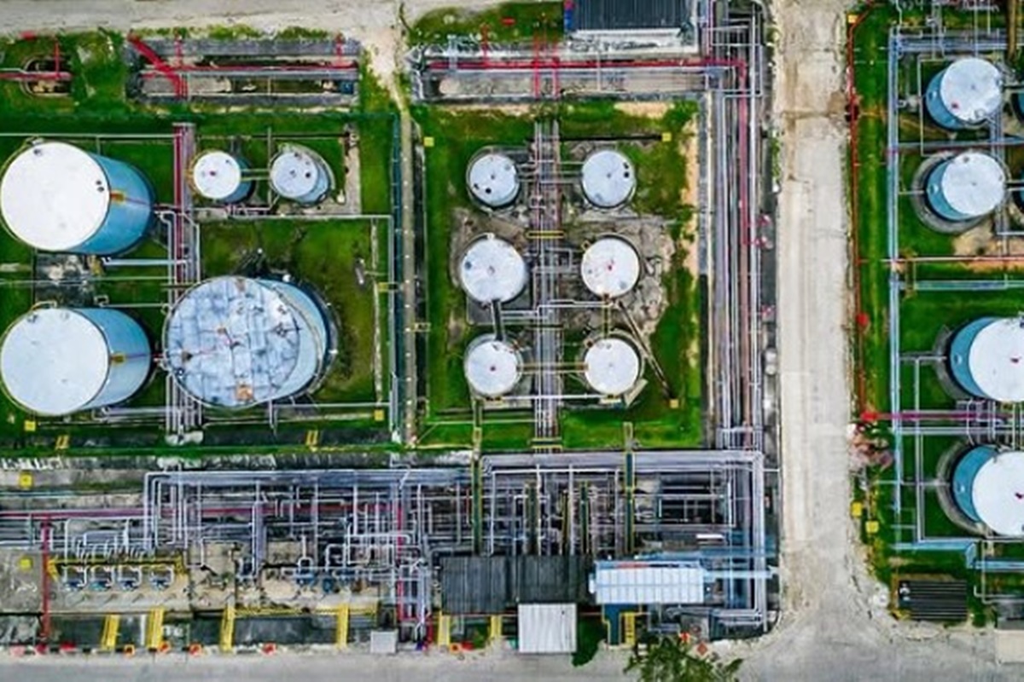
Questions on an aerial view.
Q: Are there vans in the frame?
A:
No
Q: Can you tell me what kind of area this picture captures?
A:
industrial area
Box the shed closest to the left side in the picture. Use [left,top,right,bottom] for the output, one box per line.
[441,547,516,613]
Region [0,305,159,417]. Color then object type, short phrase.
white storage tank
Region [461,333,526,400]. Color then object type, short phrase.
white storage tank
